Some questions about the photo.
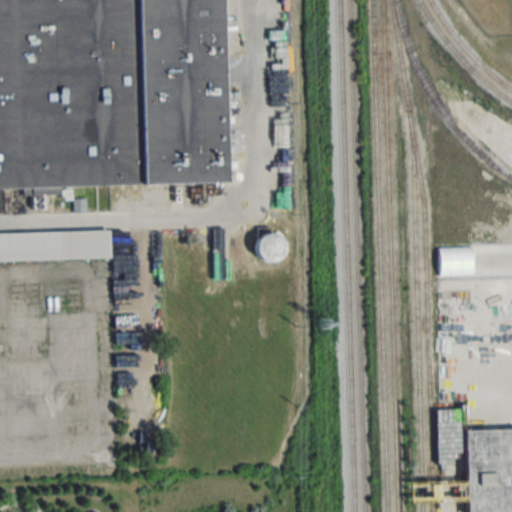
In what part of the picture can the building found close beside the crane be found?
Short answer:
bottom right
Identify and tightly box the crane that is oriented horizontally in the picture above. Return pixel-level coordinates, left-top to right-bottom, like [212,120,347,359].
[412,480,468,504]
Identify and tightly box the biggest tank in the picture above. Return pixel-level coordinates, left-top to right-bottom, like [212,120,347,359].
[254,232,288,264]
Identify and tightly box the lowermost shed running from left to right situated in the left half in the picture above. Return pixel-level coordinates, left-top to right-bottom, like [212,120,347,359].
[0,230,110,262]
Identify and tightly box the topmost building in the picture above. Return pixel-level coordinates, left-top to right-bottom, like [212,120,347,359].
[0,0,232,188]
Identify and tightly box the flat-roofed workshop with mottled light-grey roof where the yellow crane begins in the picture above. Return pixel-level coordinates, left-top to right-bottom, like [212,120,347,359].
[462,428,512,512]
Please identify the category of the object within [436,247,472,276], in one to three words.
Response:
building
